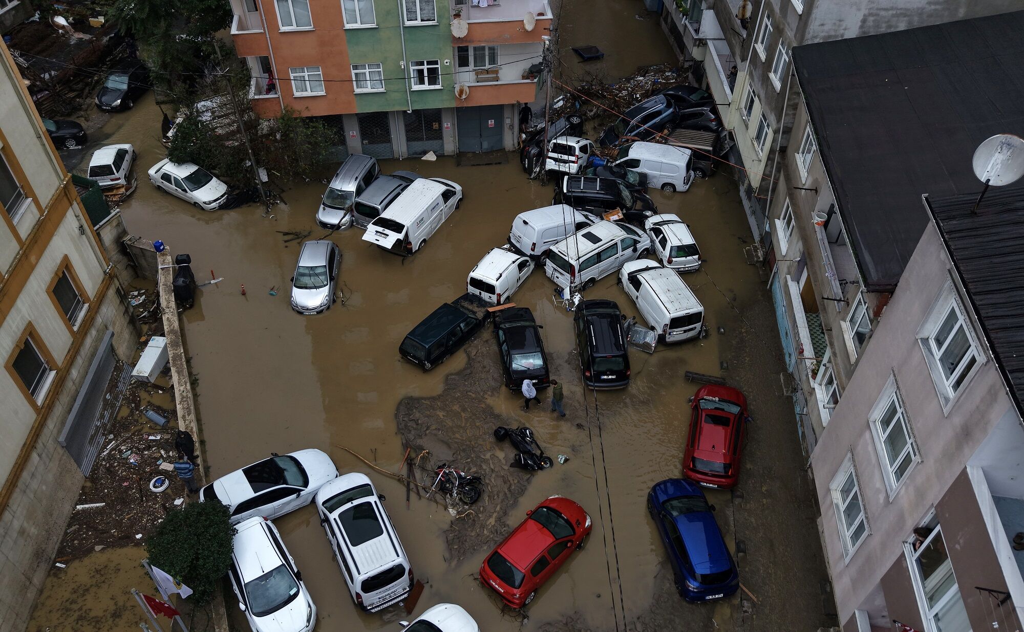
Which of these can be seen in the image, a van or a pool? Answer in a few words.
van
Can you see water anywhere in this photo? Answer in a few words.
Yes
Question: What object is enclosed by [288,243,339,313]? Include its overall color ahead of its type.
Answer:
gray car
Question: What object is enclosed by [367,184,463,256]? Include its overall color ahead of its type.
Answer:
white van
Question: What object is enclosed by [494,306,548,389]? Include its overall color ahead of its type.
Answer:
black car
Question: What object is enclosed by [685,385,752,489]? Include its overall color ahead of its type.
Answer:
red car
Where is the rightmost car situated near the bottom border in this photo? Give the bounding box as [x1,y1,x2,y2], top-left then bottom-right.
[651,477,739,605]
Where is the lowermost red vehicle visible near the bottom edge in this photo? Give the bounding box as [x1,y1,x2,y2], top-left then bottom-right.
[484,503,585,607]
